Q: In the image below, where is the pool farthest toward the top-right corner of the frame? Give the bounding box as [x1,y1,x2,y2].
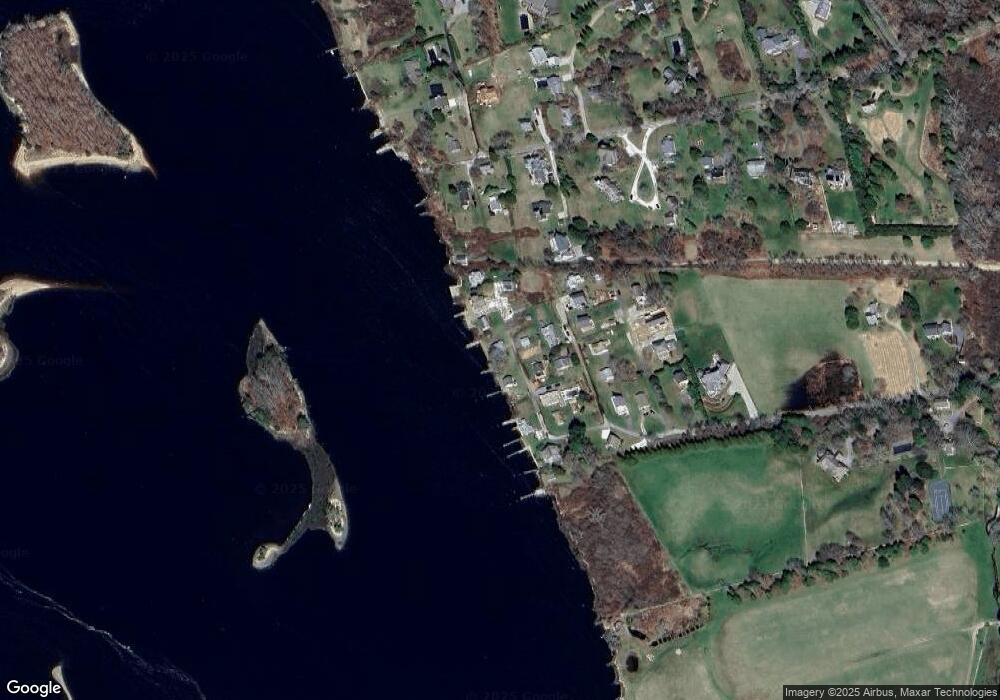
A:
[669,35,687,58]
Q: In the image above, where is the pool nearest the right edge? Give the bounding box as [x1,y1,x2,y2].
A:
[892,439,913,455]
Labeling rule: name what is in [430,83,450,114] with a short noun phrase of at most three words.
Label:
house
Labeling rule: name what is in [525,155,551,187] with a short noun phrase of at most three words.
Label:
house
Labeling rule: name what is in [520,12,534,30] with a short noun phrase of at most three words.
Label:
swimming pool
